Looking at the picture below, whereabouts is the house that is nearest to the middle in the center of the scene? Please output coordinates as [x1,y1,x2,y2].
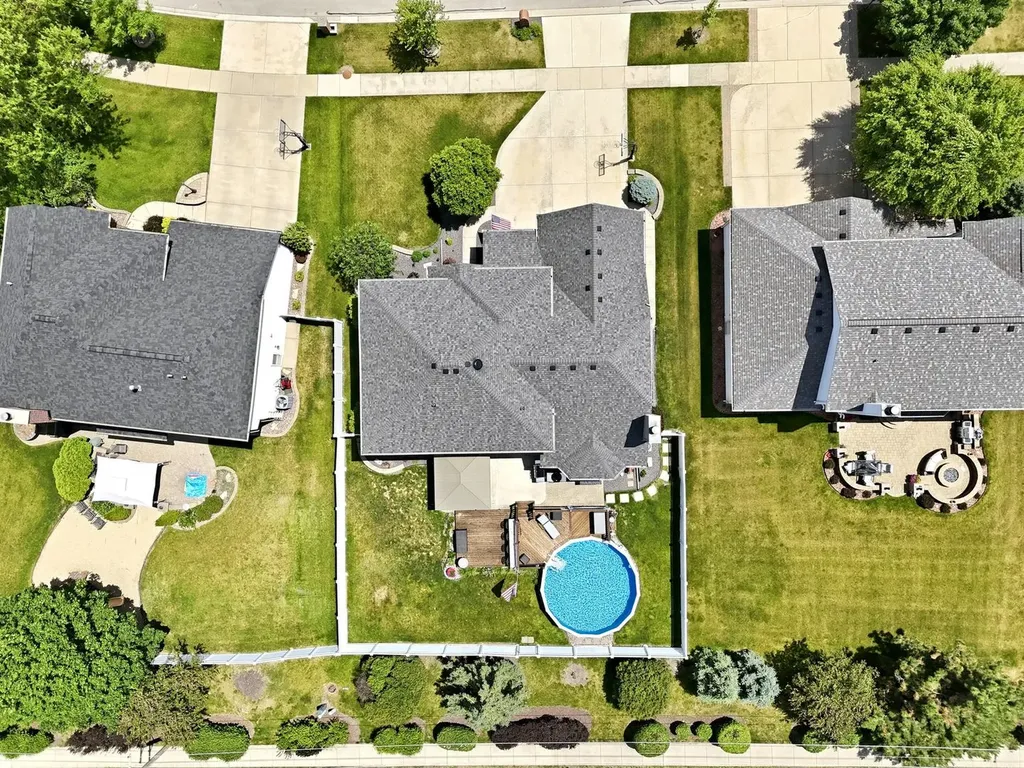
[357,203,662,481]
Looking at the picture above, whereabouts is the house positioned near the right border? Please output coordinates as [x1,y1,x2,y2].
[724,197,1024,418]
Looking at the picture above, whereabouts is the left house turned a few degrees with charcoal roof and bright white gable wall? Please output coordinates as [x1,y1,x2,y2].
[0,204,296,442]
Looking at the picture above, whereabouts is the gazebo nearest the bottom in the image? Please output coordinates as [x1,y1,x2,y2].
[433,456,493,510]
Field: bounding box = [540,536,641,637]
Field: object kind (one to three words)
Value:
swimming pool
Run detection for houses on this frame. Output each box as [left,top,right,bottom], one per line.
[0,204,296,442]
[724,197,1024,418]
[357,203,662,481]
